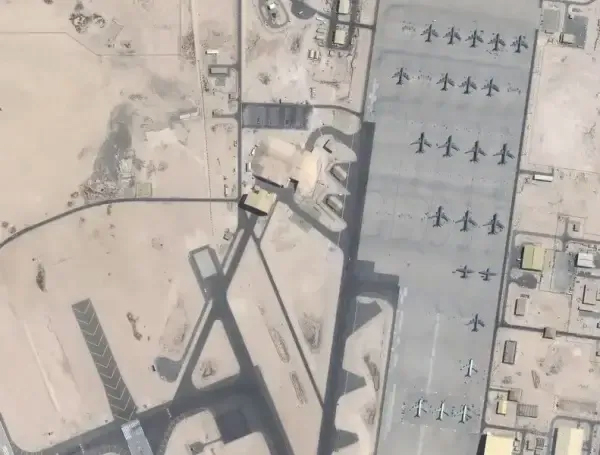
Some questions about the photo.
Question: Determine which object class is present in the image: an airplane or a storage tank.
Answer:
airplane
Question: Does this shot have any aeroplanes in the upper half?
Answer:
Yes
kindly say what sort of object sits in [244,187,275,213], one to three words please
hangar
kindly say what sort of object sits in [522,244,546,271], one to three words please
hangar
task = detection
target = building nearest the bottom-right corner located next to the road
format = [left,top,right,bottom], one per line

[555,427,585,455]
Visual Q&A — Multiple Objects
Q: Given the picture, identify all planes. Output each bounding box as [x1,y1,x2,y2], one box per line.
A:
[483,214,503,235]
[493,143,513,165]
[429,206,449,228]
[467,314,483,331]
[510,35,527,53]
[432,402,449,420]
[438,136,459,157]
[391,67,409,85]
[459,76,476,94]
[461,360,478,378]
[442,26,460,45]
[465,141,486,162]
[478,268,496,281]
[437,73,454,91]
[455,210,476,232]
[482,78,499,96]
[411,132,431,153]
[410,399,427,418]
[488,33,505,51]
[454,405,471,423]
[456,265,475,279]
[465,29,482,47]
[421,24,438,42]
